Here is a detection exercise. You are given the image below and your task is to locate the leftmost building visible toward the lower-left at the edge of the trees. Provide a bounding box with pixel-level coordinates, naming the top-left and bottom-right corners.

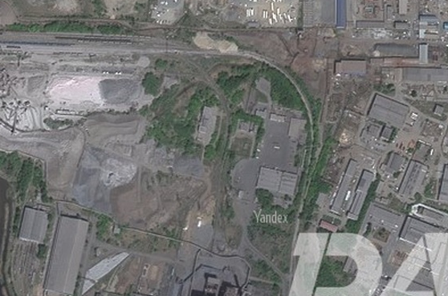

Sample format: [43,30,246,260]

[20,207,48,243]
